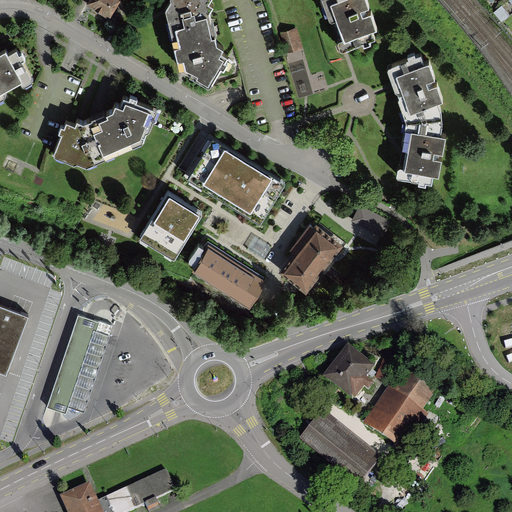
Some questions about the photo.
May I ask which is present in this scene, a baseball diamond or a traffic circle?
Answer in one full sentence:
I can see a traffic circle in this picture.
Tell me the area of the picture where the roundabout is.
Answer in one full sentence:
The roundabout is in the bottom part of the image.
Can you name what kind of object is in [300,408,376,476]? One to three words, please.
barn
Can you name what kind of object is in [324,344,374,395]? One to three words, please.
house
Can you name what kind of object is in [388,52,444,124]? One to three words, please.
building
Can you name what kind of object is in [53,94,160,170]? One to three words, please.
building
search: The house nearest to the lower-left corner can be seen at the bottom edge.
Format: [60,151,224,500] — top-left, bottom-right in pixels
[60,482,102,512]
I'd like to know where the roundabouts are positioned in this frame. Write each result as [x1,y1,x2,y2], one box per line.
[178,344,252,418]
